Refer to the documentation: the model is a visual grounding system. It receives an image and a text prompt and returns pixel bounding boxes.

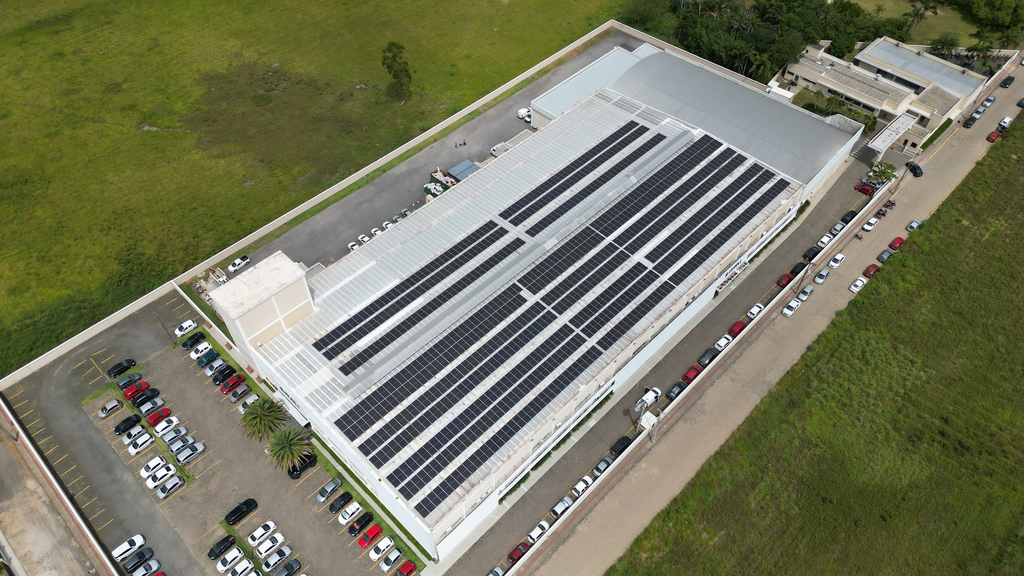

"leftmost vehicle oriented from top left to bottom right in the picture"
[209,265,230,285]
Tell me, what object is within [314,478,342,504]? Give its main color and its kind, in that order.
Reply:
gray car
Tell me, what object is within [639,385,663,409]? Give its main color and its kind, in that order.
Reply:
white truck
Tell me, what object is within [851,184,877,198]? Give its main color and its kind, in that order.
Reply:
red car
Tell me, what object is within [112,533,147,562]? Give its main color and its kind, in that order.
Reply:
white car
